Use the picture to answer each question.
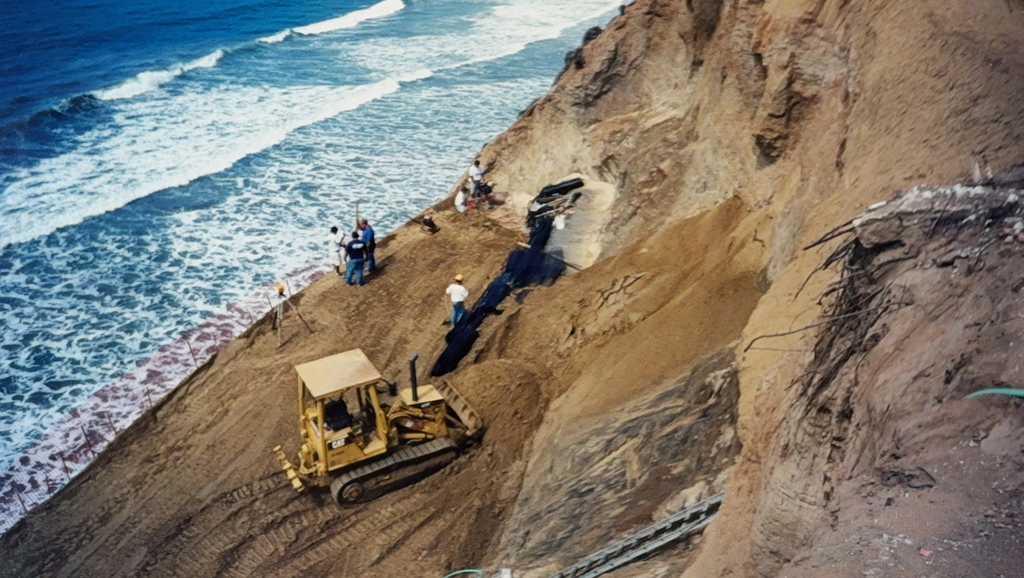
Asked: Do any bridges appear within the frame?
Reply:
No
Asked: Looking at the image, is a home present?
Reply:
No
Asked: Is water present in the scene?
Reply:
Yes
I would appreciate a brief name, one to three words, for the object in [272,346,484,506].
work vehicle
